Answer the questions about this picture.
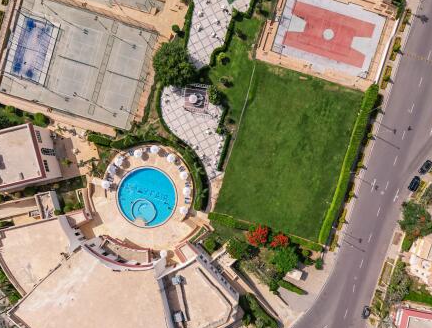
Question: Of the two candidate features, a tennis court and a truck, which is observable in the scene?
tennis court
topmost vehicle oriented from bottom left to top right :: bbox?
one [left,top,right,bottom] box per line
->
[418,159,432,175]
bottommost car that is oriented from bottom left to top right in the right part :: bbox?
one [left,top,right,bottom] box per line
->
[408,176,420,192]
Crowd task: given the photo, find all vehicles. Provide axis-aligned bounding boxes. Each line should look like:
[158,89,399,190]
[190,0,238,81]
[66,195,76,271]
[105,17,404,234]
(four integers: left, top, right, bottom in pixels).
[362,306,370,319]
[418,159,432,175]
[408,176,420,192]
